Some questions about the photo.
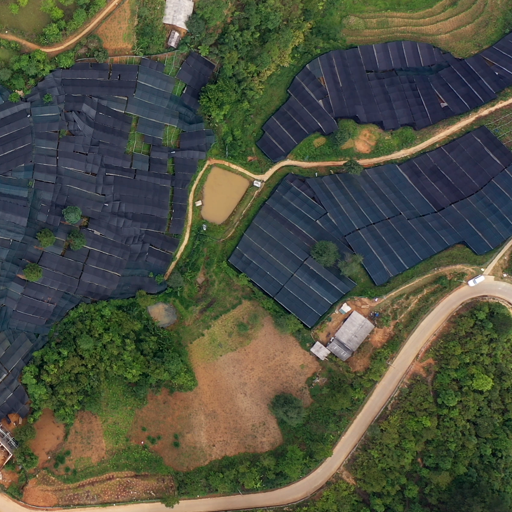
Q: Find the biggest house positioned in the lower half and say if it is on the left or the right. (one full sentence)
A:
The biggest house positioned in the lower half sits on the right side.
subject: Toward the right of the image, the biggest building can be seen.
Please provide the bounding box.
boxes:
[327,311,375,361]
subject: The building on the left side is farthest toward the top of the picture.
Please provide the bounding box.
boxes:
[162,0,194,31]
